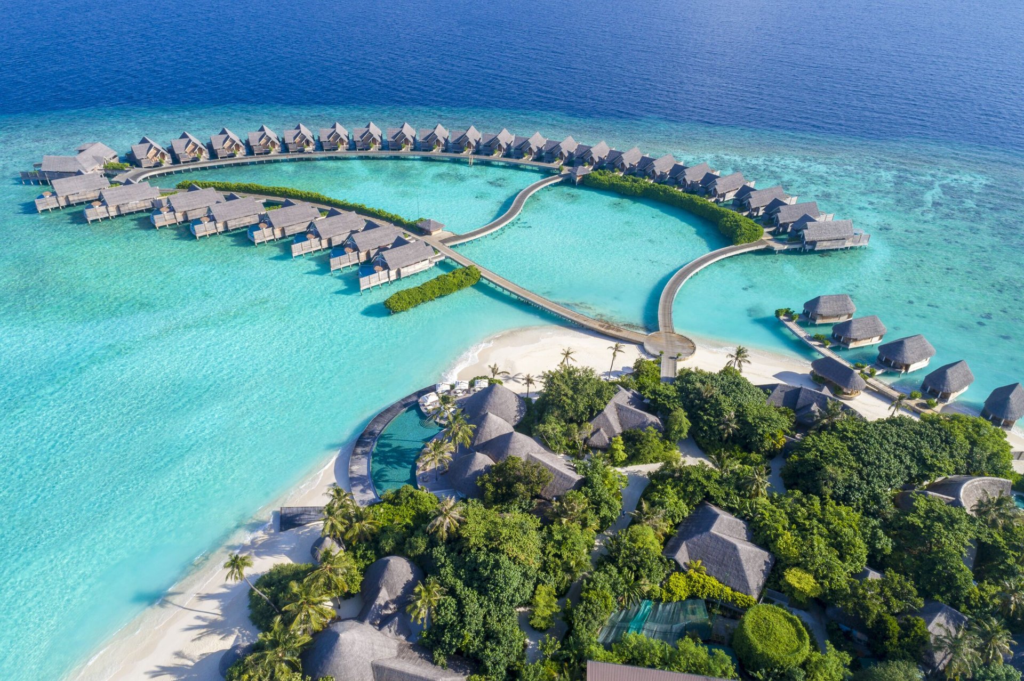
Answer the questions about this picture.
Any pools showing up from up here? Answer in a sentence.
Yes, looking at the shot, I can spot a pool.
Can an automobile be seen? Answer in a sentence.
No, the frame has no automobile in it.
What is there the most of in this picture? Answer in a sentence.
The largest share of the image is taken up by water.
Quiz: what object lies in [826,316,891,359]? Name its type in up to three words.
shed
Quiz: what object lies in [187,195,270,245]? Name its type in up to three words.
house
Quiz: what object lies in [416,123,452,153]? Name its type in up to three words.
house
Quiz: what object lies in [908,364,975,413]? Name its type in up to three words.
shed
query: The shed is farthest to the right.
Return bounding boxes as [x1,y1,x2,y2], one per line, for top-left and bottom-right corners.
[967,384,1024,433]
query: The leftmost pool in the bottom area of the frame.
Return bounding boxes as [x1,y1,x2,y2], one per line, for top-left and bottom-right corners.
[370,400,444,506]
